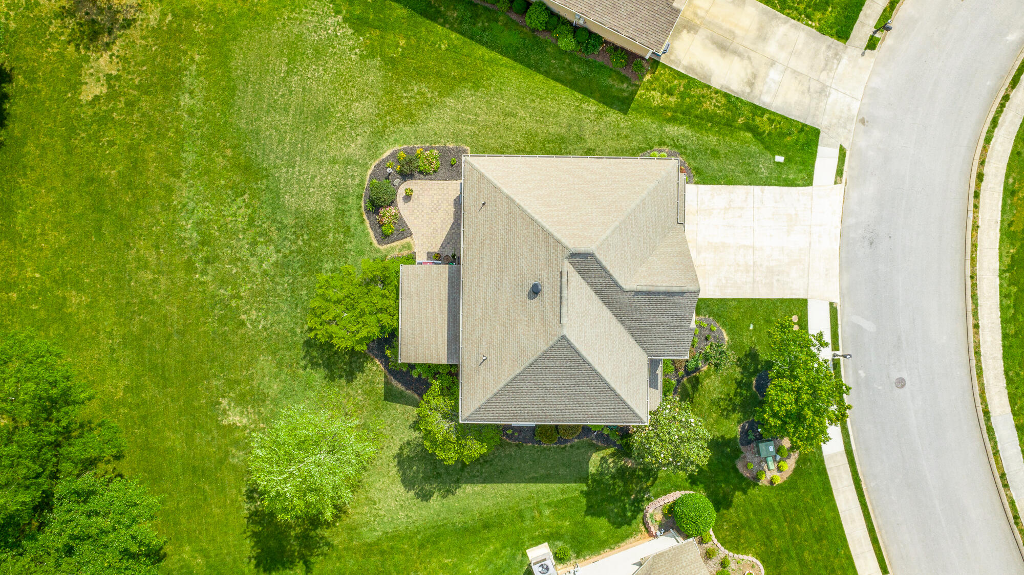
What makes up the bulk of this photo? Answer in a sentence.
The largest share of the image is taken up by grass.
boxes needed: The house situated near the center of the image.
[398,156,700,425]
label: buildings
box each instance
[398,156,700,425]
[556,530,711,575]
[529,0,687,59]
